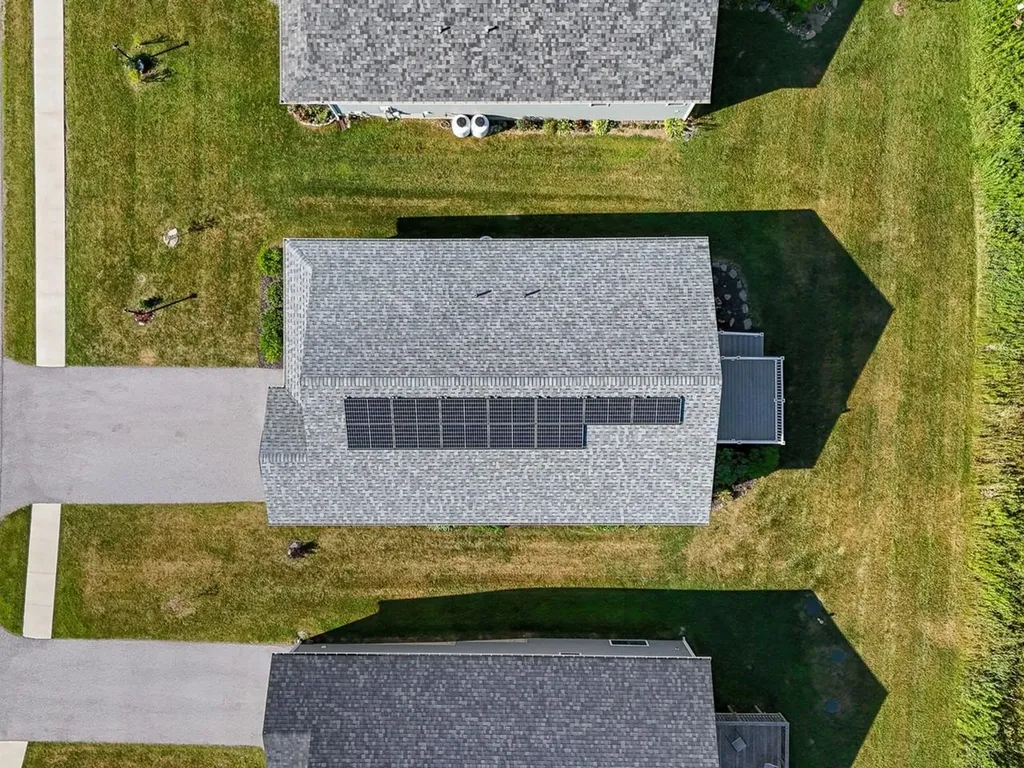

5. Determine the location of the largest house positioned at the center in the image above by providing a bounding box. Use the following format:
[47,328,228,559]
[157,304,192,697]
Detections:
[260,234,722,526]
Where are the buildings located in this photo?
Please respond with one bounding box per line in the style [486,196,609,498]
[260,234,722,526]
[279,0,719,128]
[262,633,718,768]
